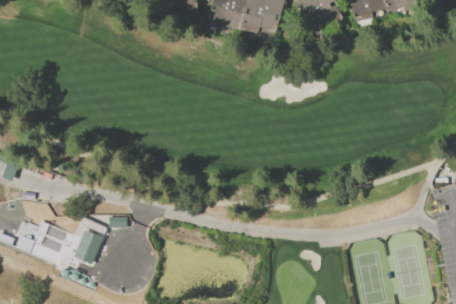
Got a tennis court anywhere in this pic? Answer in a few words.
Yes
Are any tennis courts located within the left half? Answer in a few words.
No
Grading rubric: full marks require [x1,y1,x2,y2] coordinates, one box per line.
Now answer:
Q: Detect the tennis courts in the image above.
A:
[388,232,434,304]
[350,240,396,304]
